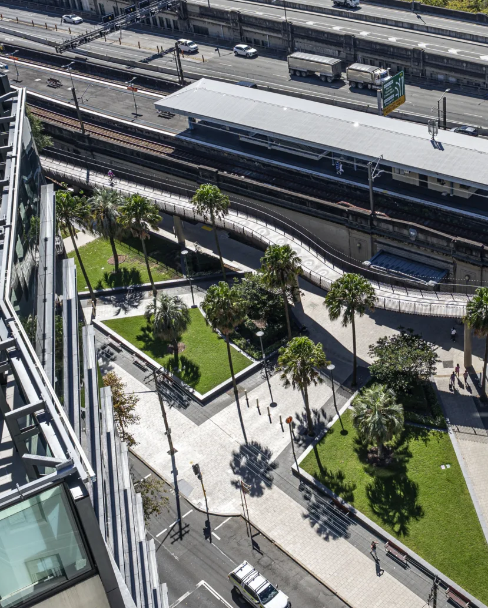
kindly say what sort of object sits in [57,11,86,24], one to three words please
vehicle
